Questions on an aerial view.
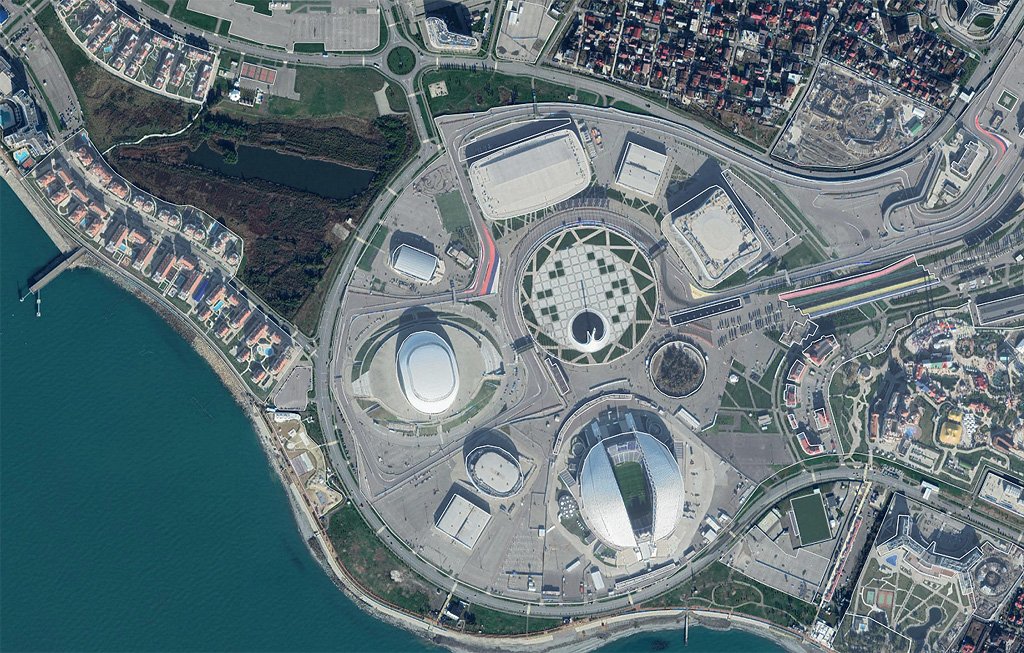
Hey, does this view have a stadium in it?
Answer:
Yes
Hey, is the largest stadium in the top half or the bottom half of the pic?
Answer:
bottom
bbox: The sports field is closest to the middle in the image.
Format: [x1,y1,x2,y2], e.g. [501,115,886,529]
[435,190,476,231]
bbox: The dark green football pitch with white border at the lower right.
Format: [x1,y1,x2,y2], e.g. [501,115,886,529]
[790,492,832,546]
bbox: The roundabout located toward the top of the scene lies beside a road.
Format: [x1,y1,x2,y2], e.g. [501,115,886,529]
[378,38,426,84]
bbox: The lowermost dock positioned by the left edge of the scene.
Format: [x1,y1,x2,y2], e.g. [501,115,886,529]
[20,246,88,316]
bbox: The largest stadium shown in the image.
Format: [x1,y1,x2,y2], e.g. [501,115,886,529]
[560,406,685,561]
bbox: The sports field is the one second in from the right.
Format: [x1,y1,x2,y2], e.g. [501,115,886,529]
[611,461,651,523]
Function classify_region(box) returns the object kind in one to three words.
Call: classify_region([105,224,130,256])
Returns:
house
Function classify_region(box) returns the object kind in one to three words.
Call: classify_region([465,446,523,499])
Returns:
stadium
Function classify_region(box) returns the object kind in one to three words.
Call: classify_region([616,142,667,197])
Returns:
building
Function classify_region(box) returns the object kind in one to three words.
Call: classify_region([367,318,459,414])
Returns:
stadium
